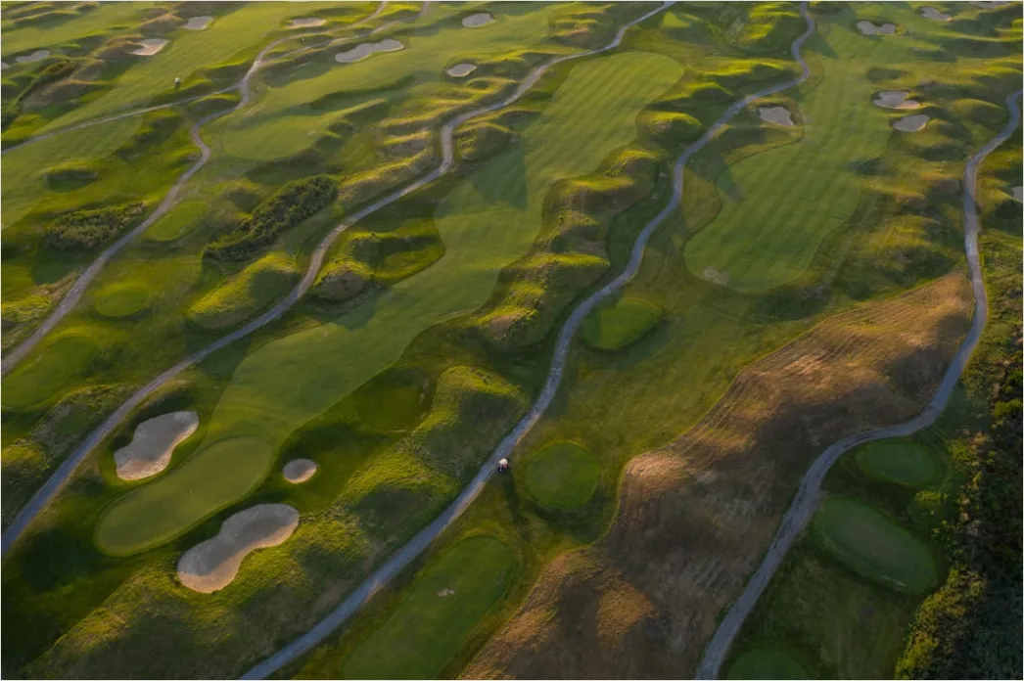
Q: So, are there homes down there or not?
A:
No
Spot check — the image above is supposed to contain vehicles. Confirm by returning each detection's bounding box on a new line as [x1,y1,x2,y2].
[497,461,509,476]
[173,78,181,86]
